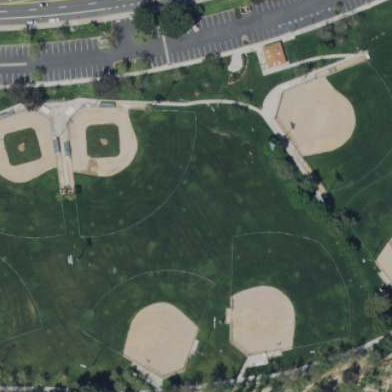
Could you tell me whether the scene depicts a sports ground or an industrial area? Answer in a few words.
sports ground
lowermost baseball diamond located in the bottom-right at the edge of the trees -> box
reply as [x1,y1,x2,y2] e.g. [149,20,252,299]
[230,232,350,356]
